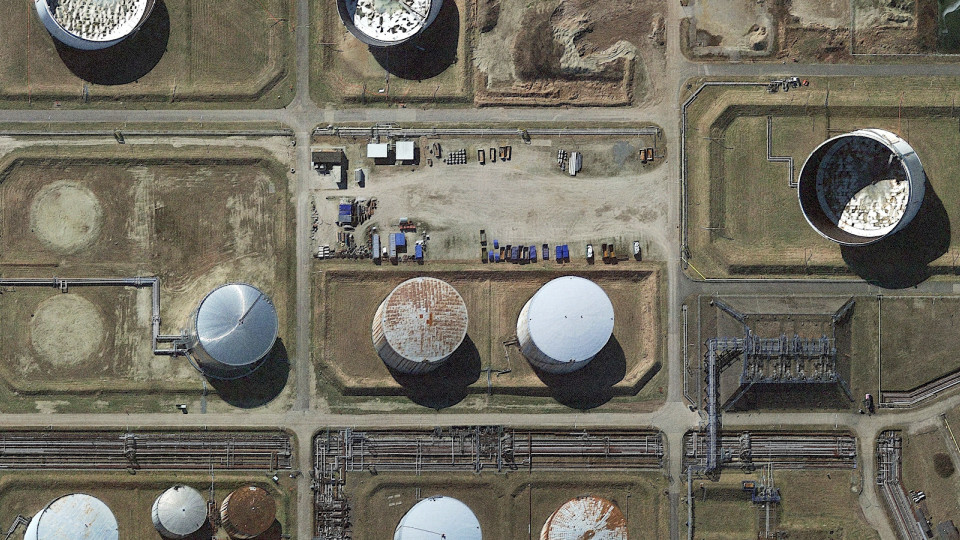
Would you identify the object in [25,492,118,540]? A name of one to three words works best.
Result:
storage tank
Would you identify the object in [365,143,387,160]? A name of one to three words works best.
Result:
shed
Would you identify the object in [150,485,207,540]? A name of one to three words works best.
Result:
storage tank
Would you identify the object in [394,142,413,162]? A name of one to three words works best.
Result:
shed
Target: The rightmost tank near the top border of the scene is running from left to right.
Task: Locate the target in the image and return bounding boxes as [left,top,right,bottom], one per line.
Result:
[337,0,446,48]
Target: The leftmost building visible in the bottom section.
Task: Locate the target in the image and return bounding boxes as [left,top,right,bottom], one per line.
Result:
[742,315,834,383]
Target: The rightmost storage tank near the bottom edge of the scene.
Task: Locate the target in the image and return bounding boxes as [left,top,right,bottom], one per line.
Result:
[538,494,630,540]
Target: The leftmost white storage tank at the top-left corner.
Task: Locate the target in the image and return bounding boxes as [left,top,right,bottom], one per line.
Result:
[35,0,154,52]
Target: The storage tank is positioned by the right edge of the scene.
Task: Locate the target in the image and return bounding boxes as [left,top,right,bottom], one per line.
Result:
[796,127,923,255]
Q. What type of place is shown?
industrial area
